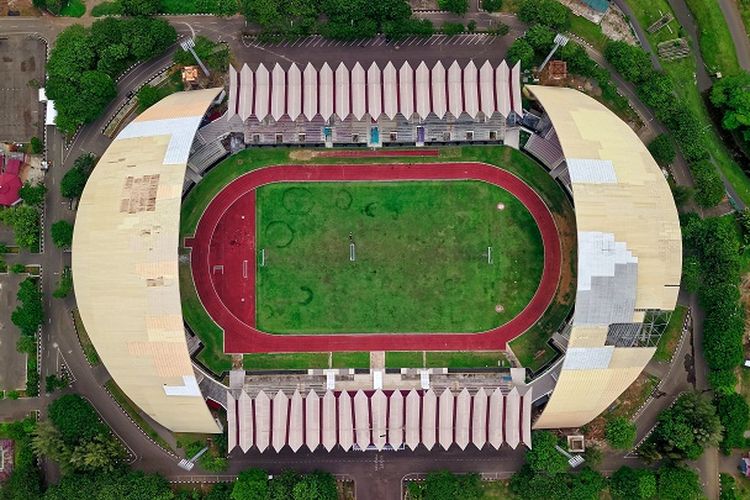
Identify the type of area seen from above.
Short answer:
sports ground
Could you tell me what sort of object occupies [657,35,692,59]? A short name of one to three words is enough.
building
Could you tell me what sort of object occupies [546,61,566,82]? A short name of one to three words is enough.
building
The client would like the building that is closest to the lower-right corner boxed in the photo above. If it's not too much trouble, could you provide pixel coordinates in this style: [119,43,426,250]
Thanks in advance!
[563,433,584,452]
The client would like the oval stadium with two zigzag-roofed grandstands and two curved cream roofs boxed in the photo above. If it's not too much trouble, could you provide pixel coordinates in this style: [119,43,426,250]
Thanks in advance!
[72,62,683,452]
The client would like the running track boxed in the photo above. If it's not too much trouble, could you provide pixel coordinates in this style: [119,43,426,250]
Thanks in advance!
[185,162,562,354]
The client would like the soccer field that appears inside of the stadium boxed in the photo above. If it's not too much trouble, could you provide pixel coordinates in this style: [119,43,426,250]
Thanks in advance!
[256,181,545,335]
